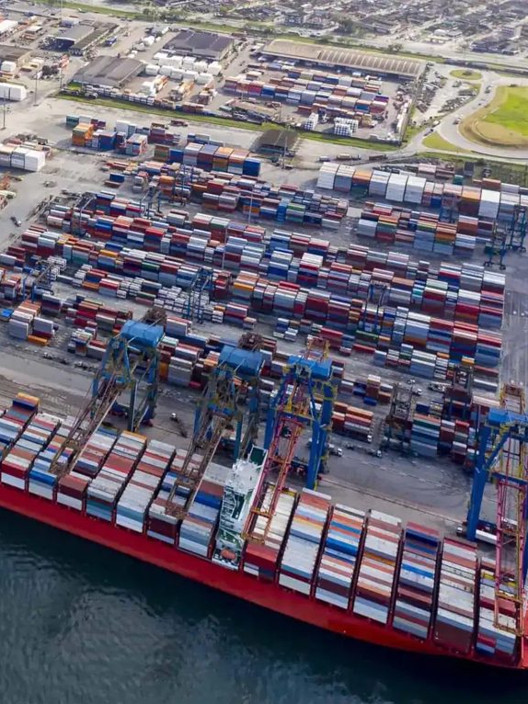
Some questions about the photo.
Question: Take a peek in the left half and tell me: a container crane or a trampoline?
container crane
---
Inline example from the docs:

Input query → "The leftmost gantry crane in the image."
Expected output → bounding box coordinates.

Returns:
[22,248,55,294]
